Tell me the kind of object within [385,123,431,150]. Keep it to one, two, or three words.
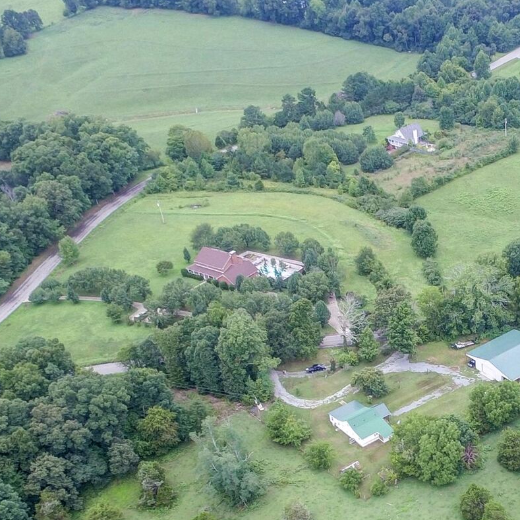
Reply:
house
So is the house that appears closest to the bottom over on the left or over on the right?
right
